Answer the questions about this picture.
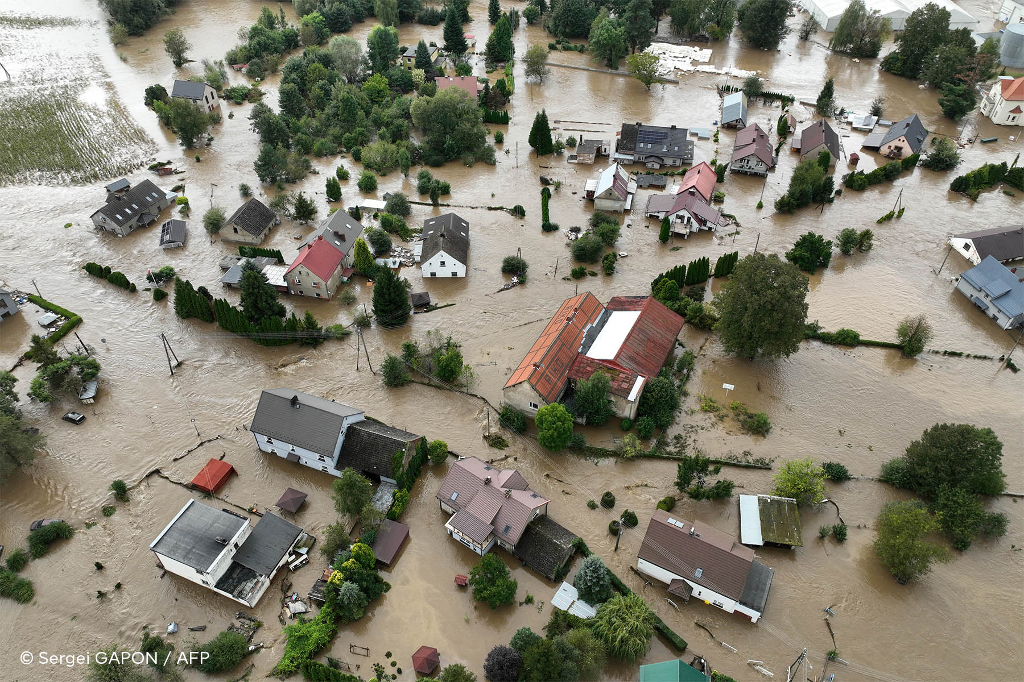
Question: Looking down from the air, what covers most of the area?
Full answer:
What you mostly see from above here is water.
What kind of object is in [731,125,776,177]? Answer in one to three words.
house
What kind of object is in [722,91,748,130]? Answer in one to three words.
barn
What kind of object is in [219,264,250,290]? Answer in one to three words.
shed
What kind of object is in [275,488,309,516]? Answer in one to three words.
gazebo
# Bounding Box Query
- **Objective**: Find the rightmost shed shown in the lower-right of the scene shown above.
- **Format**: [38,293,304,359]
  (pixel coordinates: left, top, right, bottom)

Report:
[734,494,803,551]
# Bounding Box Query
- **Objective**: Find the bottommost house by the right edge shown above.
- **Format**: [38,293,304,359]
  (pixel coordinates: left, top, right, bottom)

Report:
[957,255,1024,328]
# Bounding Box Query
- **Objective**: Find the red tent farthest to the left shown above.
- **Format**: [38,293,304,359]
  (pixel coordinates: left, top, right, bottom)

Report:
[192,459,234,496]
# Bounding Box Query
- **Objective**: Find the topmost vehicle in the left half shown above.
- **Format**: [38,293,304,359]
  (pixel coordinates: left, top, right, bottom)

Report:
[61,412,88,428]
